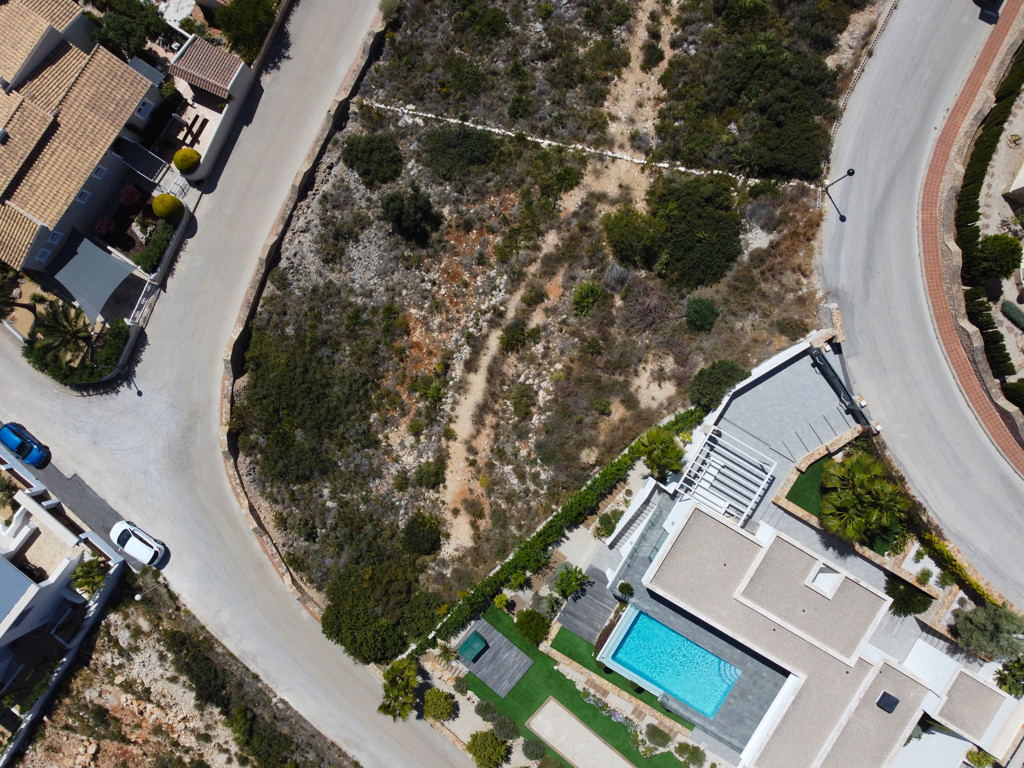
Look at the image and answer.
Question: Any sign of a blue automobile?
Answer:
Yes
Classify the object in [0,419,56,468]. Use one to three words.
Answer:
car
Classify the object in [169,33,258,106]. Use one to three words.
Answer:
building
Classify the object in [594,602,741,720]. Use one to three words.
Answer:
swimming pool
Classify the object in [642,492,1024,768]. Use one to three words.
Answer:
house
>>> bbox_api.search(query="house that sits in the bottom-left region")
[0,548,95,655]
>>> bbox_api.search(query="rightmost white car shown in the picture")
[111,518,172,569]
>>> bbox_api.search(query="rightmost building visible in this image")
[989,162,1024,202]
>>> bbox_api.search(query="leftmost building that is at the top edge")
[0,0,169,274]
